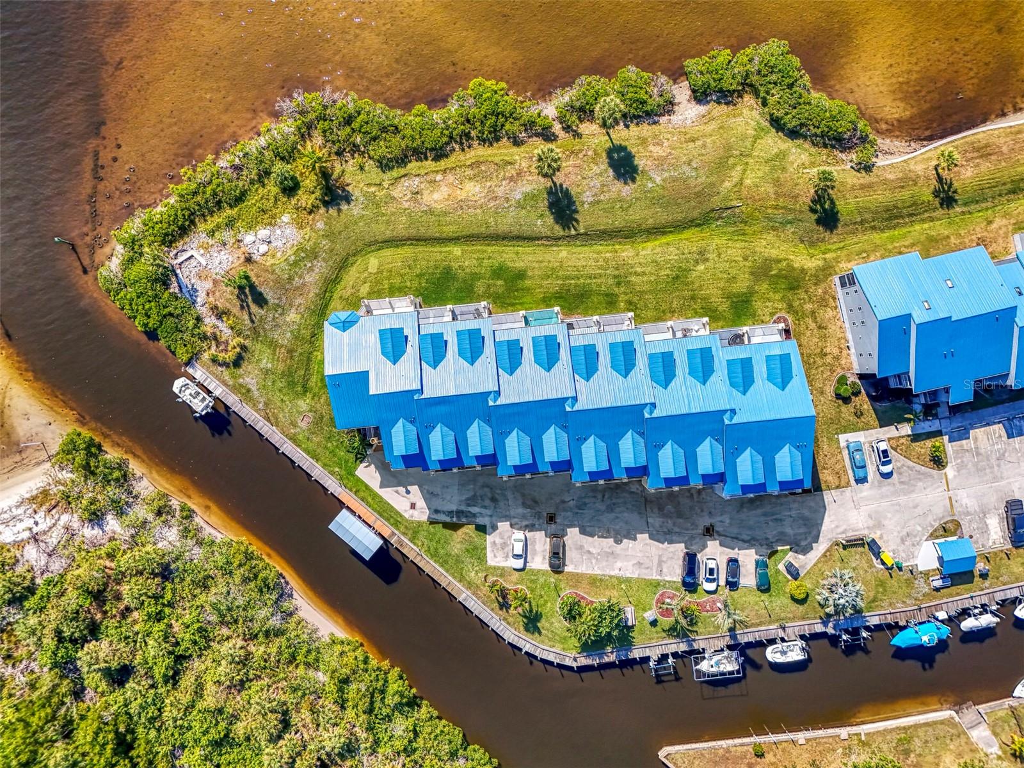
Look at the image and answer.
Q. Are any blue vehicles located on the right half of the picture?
Yes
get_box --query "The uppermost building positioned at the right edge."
[838,231,1024,405]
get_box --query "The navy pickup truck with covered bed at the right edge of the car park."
[1000,497,1024,549]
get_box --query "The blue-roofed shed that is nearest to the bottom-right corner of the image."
[924,532,976,574]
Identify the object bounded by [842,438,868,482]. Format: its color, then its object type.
blue car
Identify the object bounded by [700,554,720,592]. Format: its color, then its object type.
white car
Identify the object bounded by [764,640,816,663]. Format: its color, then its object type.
white boat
